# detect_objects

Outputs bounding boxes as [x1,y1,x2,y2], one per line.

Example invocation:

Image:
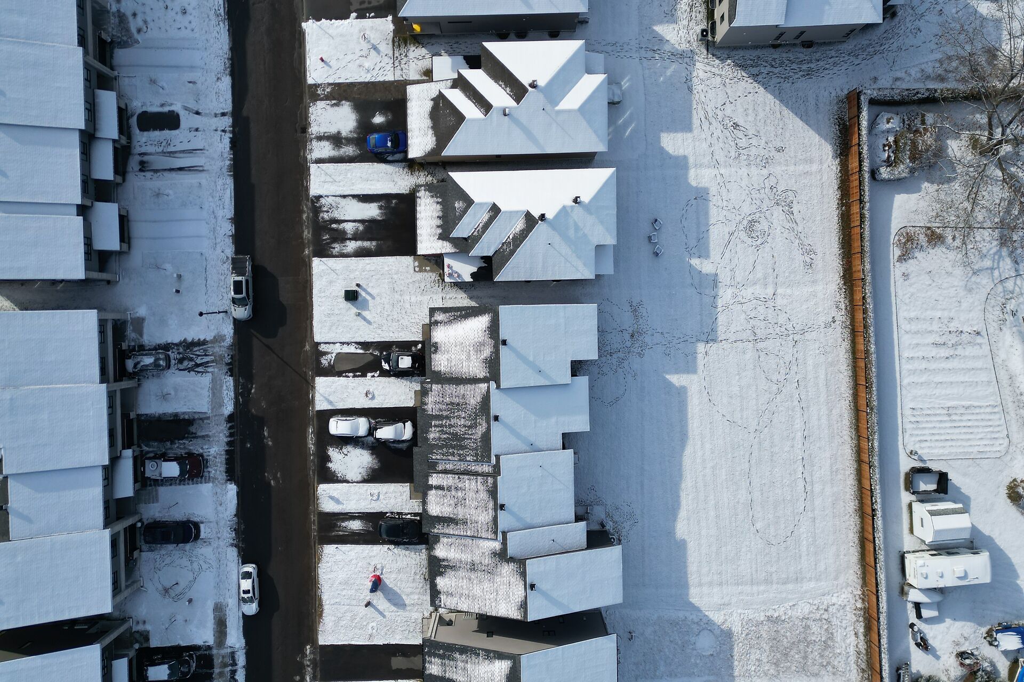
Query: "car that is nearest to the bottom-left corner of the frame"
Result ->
[143,652,198,682]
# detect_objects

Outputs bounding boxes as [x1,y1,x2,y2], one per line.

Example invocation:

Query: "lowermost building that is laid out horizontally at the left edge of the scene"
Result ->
[0,617,140,682]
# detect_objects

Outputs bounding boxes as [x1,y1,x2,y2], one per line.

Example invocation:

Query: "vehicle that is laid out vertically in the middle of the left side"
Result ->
[228,256,256,320]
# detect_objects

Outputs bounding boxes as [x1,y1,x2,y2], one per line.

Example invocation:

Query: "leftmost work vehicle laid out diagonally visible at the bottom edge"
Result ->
[907,621,931,649]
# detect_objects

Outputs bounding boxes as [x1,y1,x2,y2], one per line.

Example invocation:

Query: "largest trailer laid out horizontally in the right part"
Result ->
[902,553,998,588]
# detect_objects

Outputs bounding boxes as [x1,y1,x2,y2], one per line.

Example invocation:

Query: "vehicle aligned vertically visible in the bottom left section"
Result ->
[238,562,263,615]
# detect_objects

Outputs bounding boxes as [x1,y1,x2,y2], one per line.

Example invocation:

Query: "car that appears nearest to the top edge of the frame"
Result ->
[364,130,408,155]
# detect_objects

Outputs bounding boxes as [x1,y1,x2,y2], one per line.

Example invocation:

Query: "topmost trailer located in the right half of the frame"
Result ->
[905,465,950,498]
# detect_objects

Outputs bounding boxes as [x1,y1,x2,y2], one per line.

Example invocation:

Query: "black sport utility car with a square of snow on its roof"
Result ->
[381,351,425,375]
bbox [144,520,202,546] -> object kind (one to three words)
car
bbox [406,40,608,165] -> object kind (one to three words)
house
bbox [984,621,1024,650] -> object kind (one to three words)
boat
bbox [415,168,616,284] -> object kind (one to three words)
house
